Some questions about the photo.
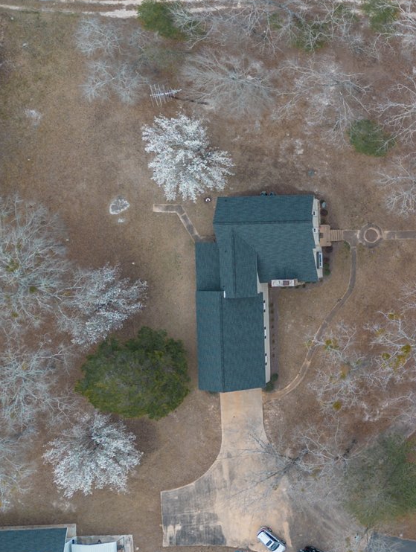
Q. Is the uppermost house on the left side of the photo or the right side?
right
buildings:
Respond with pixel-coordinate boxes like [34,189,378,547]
[196,195,349,393]
[0,526,73,552]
